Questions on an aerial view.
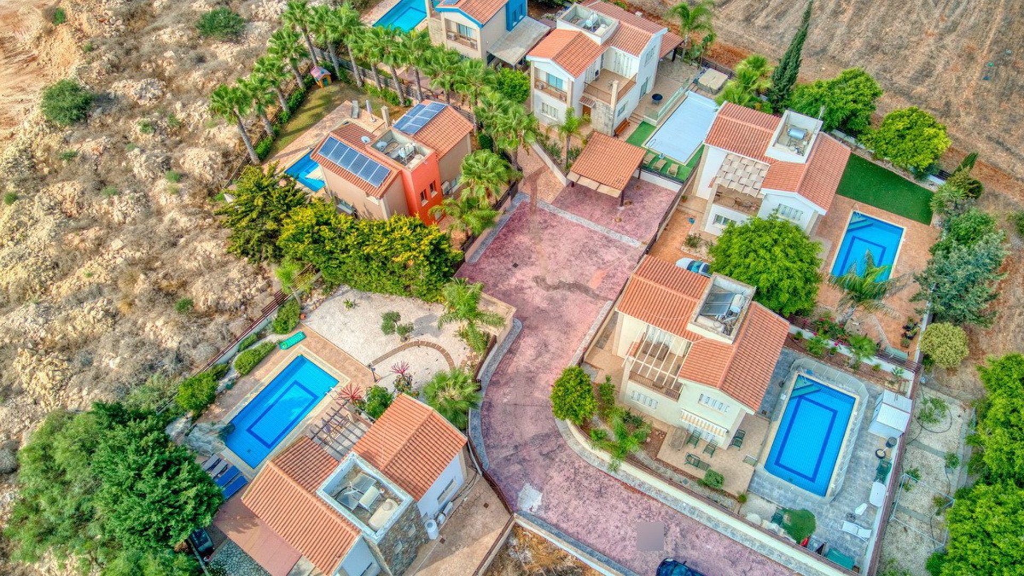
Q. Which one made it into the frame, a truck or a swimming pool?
swimming pool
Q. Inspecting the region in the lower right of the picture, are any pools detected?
Yes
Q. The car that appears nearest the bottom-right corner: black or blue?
blue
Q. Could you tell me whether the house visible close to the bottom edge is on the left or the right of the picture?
left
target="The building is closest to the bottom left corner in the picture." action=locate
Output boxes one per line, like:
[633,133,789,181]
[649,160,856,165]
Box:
[240,393,468,576]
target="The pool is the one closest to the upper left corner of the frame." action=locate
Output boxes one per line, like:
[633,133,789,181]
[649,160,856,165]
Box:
[281,138,331,199]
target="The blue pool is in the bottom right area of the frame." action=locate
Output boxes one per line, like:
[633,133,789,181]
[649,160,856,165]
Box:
[759,370,861,502]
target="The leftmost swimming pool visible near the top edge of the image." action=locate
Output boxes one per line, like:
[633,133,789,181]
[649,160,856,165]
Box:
[369,0,444,44]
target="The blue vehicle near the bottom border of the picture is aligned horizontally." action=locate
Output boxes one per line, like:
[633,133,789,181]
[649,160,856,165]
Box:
[650,553,706,576]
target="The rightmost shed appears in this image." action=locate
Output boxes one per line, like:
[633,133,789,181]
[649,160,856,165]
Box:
[868,393,913,439]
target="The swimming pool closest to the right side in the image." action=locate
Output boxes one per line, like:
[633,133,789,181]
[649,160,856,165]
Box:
[828,209,907,284]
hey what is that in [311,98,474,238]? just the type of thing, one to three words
house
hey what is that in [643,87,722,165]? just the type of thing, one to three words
swimming pool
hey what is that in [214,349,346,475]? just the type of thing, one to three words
swimming pool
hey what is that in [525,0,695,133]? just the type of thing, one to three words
house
